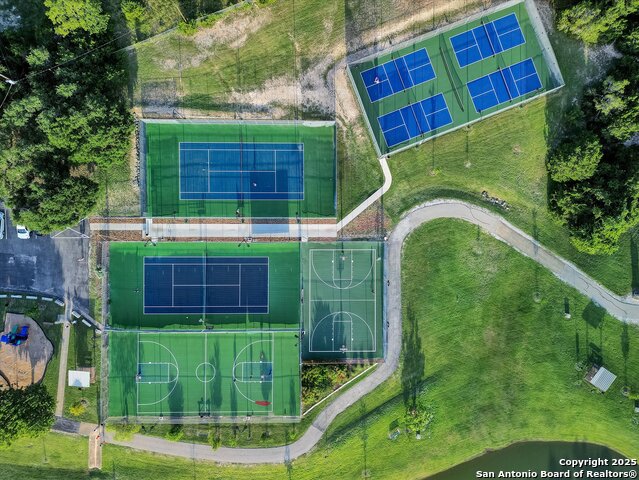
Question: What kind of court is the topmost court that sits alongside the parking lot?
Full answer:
The topmost court that sits alongside the parking lot in the image is a tennis court.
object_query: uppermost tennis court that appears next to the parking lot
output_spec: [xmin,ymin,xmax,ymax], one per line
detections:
[147,124,336,216]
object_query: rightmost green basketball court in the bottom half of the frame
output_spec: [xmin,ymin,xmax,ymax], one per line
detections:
[302,243,384,361]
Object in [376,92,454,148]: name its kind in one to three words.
sports court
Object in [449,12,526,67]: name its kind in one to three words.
sports court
